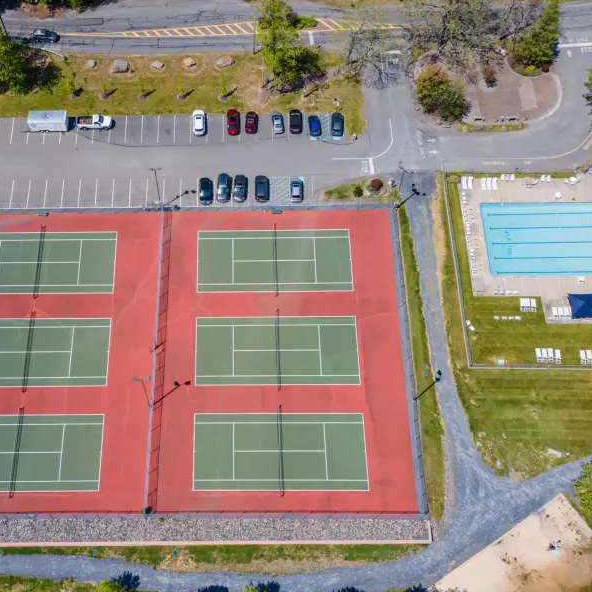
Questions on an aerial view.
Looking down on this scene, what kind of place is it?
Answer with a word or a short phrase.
sports ground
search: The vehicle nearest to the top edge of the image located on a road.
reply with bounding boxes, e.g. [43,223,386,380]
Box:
[30,27,58,42]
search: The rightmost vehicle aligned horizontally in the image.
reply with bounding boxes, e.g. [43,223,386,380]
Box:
[76,114,111,129]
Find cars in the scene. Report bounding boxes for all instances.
[308,114,322,137]
[331,112,344,137]
[199,178,212,204]
[30,27,58,42]
[290,110,302,134]
[291,176,303,201]
[271,111,285,135]
[245,111,257,135]
[234,175,247,200]
[217,173,231,200]
[226,110,239,134]
[192,111,205,134]
[255,174,269,201]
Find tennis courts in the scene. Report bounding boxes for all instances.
[195,309,361,389]
[193,405,369,496]
[0,310,111,392]
[197,221,353,297]
[0,224,117,298]
[0,407,104,498]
